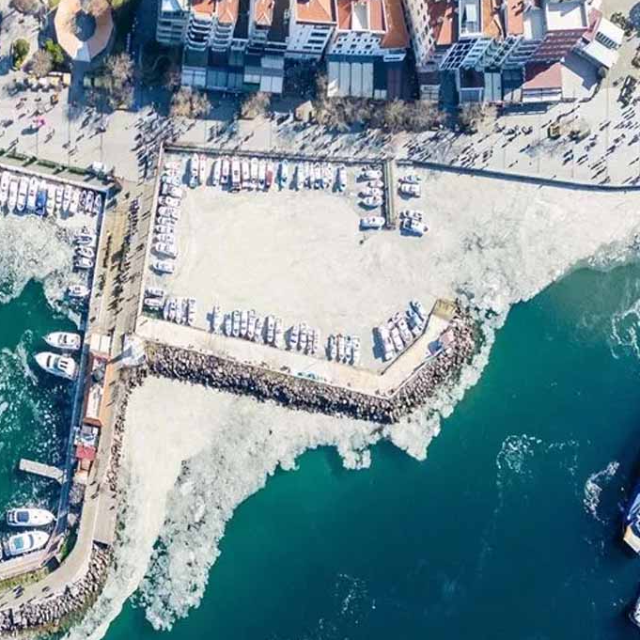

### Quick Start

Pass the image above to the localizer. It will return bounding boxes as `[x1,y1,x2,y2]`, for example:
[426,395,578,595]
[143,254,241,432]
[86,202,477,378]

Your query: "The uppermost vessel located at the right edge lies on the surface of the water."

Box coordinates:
[613,487,640,551]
